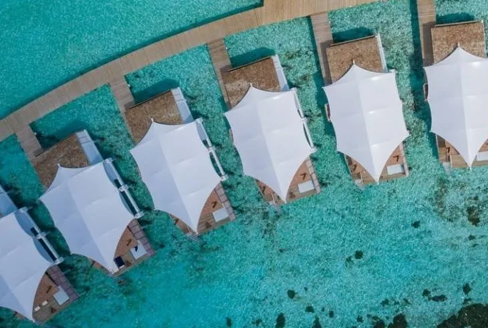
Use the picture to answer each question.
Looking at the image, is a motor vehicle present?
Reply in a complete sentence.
No, the scene contains no motor vehicle.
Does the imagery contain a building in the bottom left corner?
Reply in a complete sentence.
Yes, a building shows up in the bottom left corner.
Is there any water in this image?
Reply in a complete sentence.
Yes, there is water in the image.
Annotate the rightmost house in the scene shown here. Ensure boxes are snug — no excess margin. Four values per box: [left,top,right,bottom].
[422,18,488,170]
